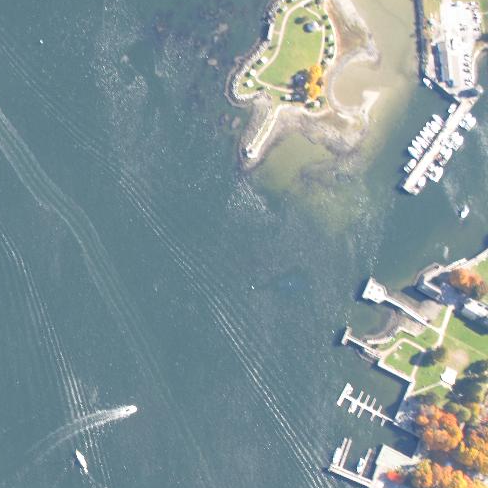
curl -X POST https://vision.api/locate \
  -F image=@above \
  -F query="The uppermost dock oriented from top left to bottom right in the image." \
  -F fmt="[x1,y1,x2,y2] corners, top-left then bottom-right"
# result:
[384,293,442,332]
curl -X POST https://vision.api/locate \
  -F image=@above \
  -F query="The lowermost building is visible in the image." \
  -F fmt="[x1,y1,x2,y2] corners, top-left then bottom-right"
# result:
[436,364,460,385]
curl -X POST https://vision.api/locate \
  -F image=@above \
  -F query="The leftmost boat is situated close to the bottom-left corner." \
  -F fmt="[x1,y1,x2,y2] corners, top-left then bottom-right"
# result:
[75,450,89,474]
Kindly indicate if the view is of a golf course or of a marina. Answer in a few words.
marina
